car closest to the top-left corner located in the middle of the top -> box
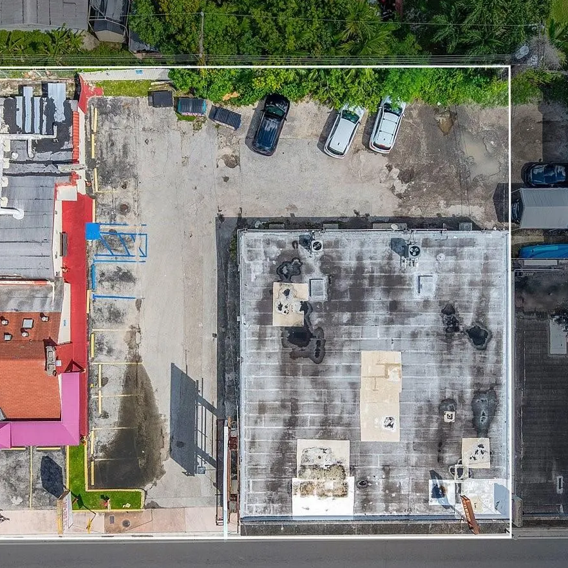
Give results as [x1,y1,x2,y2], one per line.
[254,99,290,160]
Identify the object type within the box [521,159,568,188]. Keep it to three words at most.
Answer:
car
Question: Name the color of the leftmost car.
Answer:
black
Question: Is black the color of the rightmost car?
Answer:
Yes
